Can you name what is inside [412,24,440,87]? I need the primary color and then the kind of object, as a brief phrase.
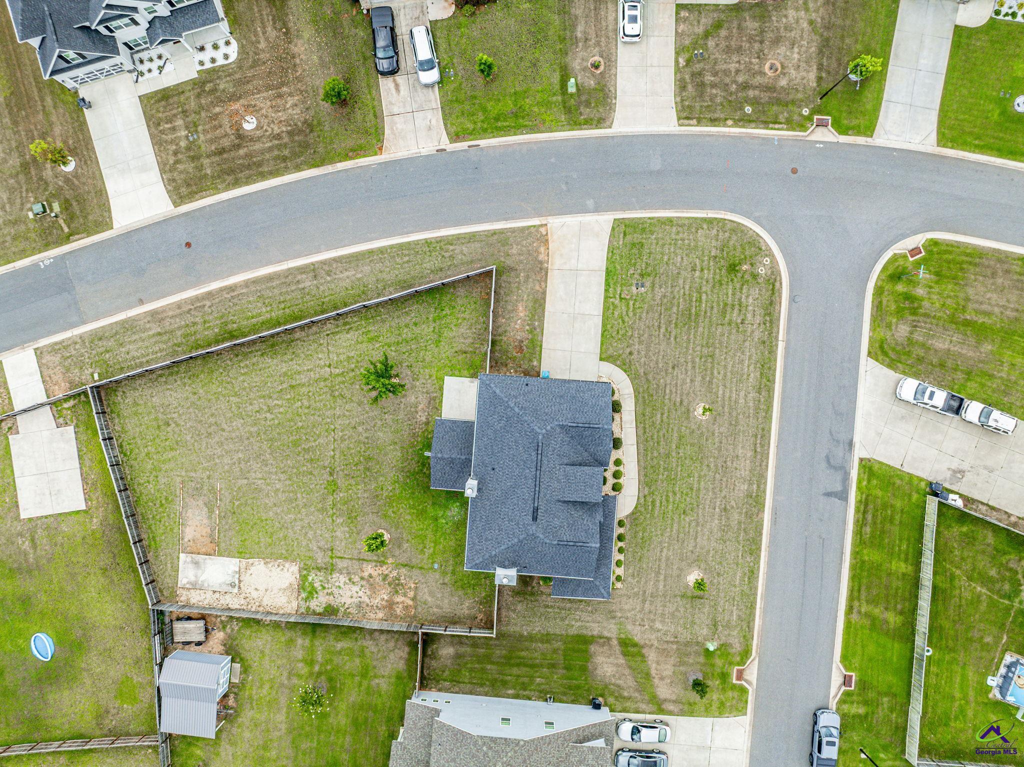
white car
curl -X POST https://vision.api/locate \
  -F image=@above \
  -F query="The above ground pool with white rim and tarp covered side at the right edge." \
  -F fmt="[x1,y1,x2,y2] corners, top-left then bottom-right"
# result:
[982,645,1024,712]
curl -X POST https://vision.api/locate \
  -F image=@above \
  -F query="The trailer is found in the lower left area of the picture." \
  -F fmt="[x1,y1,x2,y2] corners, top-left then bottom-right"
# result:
[159,615,217,646]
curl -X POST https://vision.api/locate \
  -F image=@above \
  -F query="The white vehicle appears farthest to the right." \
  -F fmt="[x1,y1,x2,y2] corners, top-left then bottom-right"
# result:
[962,400,1021,437]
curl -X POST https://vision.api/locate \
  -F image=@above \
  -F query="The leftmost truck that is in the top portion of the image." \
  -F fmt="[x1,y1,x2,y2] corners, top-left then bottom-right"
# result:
[370,7,400,77]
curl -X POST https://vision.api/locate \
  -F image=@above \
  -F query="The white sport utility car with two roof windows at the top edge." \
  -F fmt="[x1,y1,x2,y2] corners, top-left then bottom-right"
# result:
[621,0,648,43]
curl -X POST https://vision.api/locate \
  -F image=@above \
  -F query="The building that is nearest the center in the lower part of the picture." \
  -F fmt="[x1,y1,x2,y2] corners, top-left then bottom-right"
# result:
[424,372,619,601]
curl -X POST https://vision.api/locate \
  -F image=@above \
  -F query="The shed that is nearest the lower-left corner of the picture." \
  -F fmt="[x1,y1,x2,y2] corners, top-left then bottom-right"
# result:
[154,650,232,739]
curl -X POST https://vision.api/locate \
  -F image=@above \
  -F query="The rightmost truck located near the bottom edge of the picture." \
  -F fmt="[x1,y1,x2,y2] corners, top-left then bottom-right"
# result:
[809,707,841,767]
